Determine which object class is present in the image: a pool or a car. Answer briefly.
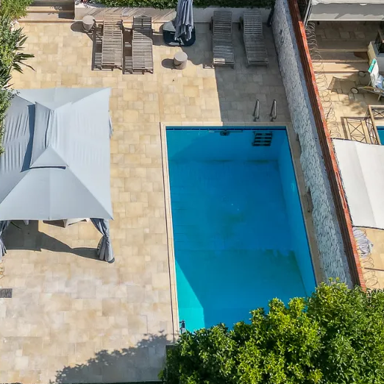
pool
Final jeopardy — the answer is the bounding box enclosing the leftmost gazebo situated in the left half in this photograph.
[0,87,120,267]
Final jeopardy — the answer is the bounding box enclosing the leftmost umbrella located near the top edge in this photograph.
[163,0,194,45]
